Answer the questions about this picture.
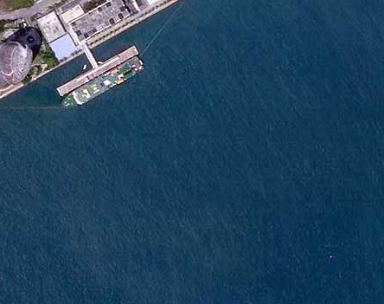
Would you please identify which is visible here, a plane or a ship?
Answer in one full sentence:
The one in the frame is a ship.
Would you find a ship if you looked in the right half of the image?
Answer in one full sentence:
No, no ship is visible in the right half of the image.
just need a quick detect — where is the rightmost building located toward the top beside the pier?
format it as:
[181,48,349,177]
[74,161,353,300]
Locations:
[69,0,130,43]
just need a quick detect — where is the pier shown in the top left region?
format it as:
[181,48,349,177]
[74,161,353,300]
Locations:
[58,46,138,96]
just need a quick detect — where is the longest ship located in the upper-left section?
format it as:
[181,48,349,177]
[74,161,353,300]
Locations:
[63,58,143,105]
